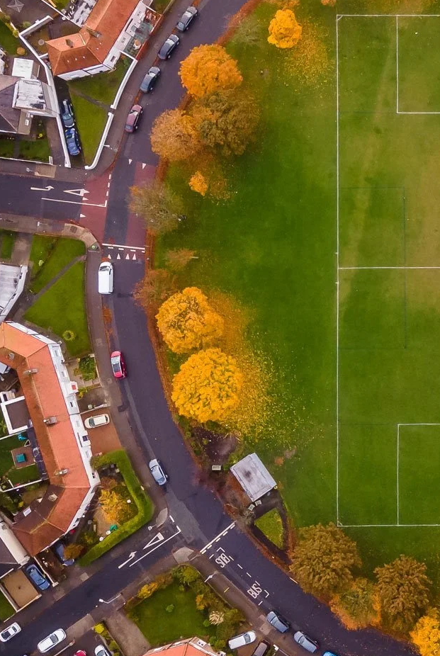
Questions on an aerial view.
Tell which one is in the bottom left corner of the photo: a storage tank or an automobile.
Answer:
automobile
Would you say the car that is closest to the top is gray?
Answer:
Yes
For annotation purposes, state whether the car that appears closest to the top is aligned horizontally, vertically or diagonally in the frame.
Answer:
diagonally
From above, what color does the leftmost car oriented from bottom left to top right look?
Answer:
white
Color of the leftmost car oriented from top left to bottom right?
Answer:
blue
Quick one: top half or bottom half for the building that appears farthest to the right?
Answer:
bottom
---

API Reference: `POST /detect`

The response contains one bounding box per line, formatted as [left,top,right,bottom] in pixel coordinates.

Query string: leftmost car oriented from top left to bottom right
[26,563,52,592]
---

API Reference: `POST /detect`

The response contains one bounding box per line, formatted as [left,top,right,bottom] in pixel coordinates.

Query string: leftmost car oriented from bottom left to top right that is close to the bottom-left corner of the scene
[0,620,25,645]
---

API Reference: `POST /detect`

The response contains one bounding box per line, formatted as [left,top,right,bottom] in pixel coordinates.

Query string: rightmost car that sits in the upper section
[175,4,200,33]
